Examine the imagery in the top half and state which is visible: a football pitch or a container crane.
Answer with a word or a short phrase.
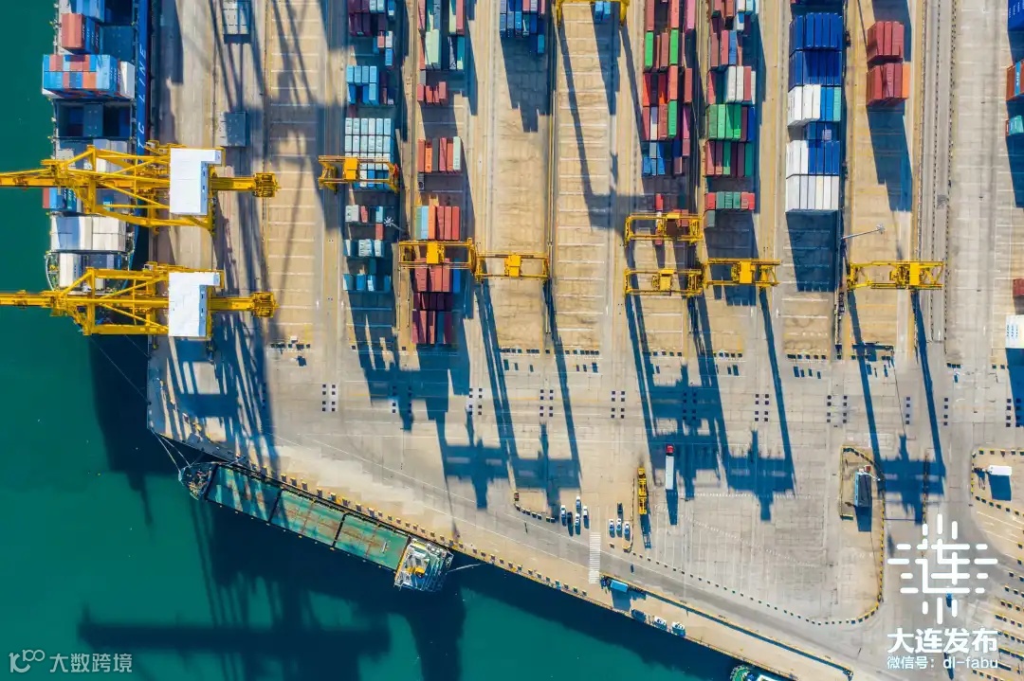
container crane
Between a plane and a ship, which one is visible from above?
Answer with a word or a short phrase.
ship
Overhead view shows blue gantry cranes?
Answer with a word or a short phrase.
No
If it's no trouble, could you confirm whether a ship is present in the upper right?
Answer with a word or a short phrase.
No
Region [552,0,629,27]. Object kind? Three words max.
container crane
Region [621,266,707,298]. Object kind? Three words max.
container crane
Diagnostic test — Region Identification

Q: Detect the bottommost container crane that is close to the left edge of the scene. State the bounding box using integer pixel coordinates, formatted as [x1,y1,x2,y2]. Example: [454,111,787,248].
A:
[0,264,284,342]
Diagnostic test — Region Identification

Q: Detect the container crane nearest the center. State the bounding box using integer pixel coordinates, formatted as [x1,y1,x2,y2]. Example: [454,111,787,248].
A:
[474,252,552,283]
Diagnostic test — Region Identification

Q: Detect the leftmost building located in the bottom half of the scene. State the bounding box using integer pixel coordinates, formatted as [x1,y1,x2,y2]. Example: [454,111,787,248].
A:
[857,471,876,507]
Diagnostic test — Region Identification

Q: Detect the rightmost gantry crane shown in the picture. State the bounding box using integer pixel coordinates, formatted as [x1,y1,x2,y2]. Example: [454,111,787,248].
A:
[848,258,947,293]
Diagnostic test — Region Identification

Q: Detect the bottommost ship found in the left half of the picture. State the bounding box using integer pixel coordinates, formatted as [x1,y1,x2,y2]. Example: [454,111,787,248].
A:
[179,460,452,590]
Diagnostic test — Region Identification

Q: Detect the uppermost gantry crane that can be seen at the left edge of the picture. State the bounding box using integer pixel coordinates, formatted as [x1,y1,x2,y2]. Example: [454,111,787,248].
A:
[0,141,284,236]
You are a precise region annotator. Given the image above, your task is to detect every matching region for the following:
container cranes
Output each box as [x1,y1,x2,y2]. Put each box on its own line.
[552,0,629,27]
[621,266,707,298]
[848,258,947,293]
[0,264,284,342]
[319,153,407,194]
[621,212,707,248]
[398,238,479,272]
[0,141,284,236]
[693,256,785,290]
[474,252,552,283]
